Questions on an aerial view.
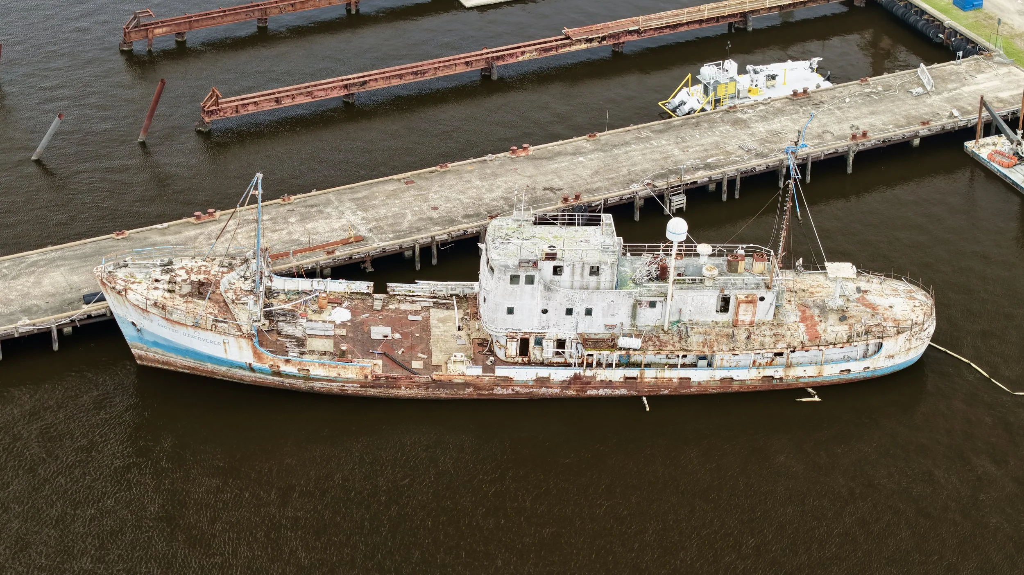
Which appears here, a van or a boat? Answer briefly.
boat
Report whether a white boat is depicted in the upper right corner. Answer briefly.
Yes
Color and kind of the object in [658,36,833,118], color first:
white boat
